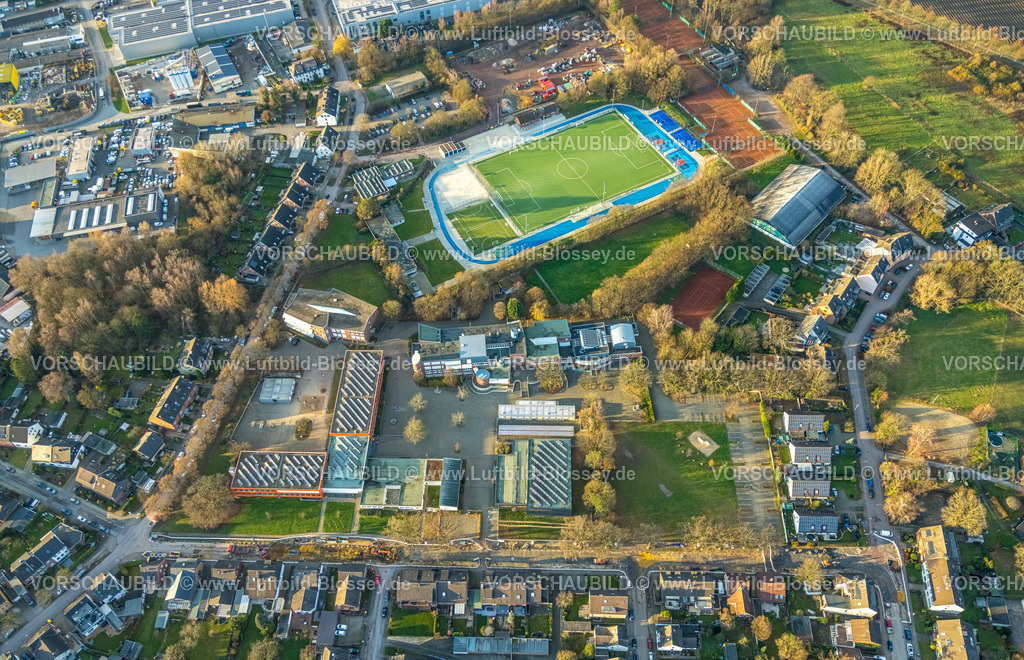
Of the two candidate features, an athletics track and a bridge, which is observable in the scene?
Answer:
athletics track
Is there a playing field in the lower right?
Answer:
No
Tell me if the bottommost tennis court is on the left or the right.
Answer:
right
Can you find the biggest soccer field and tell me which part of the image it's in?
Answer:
top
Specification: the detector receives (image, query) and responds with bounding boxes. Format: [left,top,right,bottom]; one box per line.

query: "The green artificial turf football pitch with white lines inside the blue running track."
[472,111,675,235]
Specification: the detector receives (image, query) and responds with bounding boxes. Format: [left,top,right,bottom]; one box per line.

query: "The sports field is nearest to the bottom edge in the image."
[446,199,519,255]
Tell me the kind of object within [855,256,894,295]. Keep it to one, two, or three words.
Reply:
house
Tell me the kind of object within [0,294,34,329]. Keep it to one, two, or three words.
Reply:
building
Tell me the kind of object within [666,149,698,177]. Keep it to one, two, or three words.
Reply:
basketball court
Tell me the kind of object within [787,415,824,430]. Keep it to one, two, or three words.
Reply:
solar array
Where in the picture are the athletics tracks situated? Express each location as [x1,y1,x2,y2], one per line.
[428,103,690,265]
